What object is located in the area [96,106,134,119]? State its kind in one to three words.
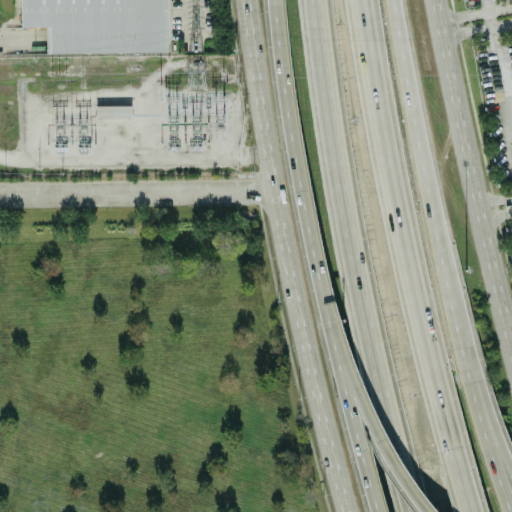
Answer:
building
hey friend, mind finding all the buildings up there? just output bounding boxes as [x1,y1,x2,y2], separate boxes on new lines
[22,0,170,54]
[96,106,134,119]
